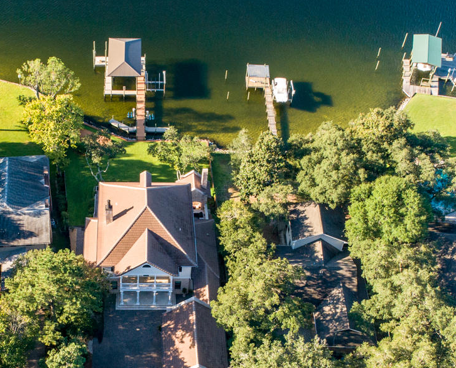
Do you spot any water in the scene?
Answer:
Yes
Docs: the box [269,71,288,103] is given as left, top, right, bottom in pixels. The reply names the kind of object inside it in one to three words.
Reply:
boat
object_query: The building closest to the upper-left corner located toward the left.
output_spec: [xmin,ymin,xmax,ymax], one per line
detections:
[92,29,169,141]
